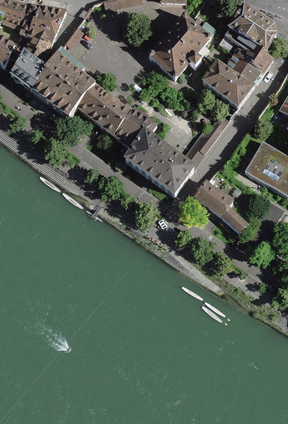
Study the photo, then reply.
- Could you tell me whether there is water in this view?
Yes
